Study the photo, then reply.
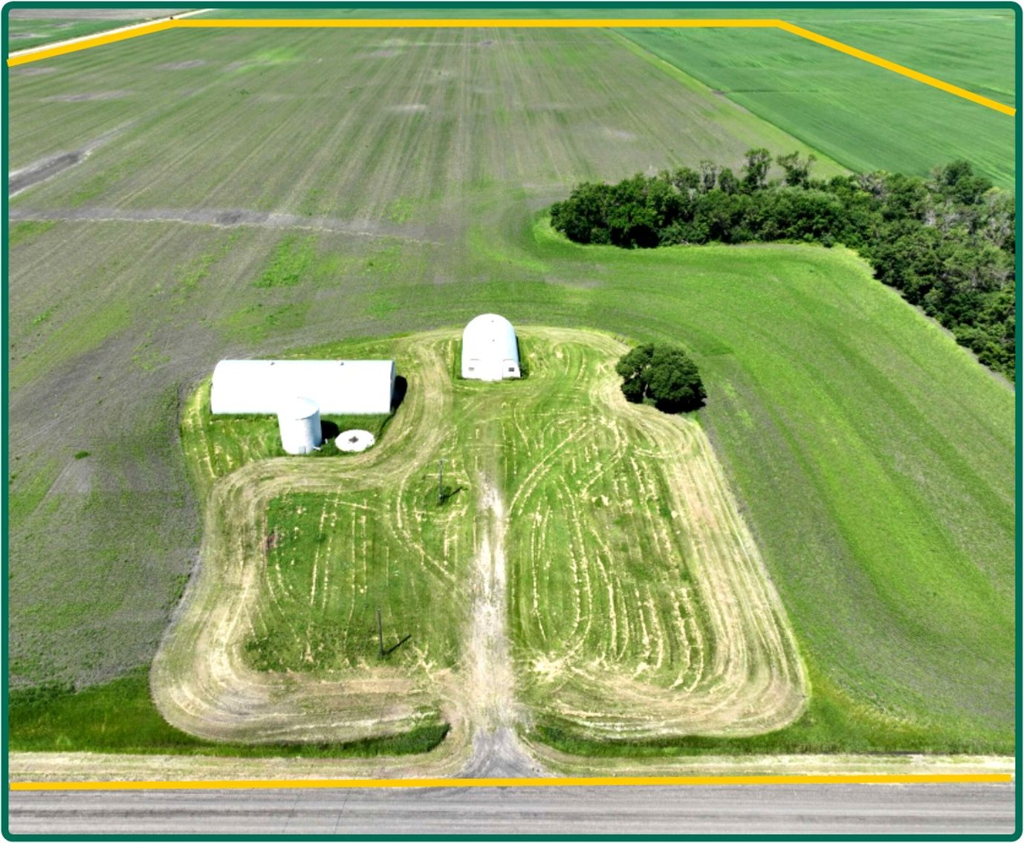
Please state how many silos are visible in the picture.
one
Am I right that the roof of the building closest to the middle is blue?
No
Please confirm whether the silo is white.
Yes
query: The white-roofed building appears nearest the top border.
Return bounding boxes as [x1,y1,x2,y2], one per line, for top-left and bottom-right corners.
[462,313,520,381]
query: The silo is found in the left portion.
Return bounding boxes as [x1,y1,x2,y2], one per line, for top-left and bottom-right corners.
[274,397,322,454]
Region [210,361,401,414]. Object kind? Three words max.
shed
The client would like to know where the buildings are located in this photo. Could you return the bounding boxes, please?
[210,361,401,414]
[462,313,520,381]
